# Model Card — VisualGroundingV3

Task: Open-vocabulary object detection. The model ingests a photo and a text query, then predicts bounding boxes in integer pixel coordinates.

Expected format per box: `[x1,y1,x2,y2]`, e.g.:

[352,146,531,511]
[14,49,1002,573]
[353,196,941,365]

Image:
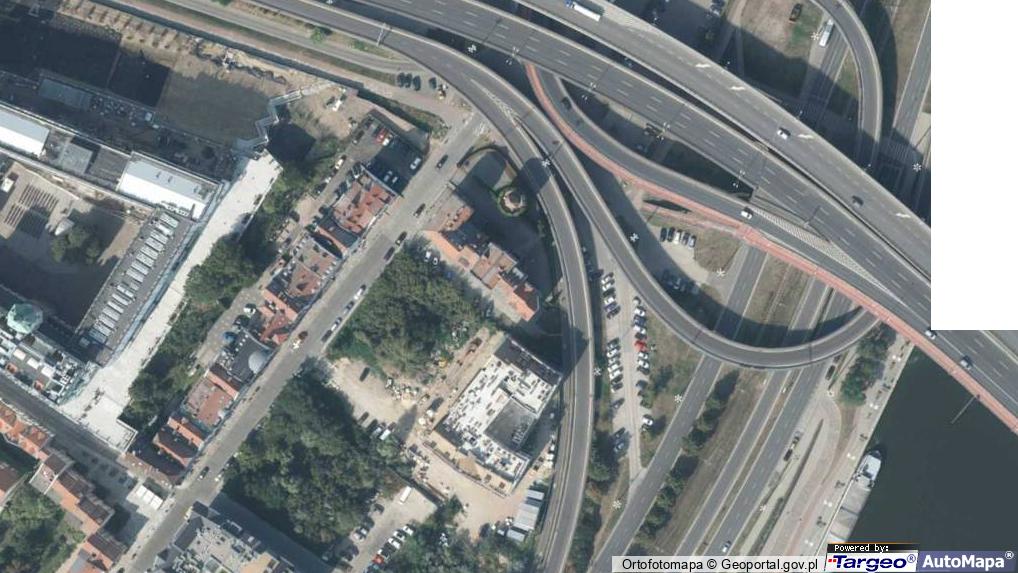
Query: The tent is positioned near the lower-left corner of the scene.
[135,485,164,511]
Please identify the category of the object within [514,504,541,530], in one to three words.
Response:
shed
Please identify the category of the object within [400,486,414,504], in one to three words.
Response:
vehicle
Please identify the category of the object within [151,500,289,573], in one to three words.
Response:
building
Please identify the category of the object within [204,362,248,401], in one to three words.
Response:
house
